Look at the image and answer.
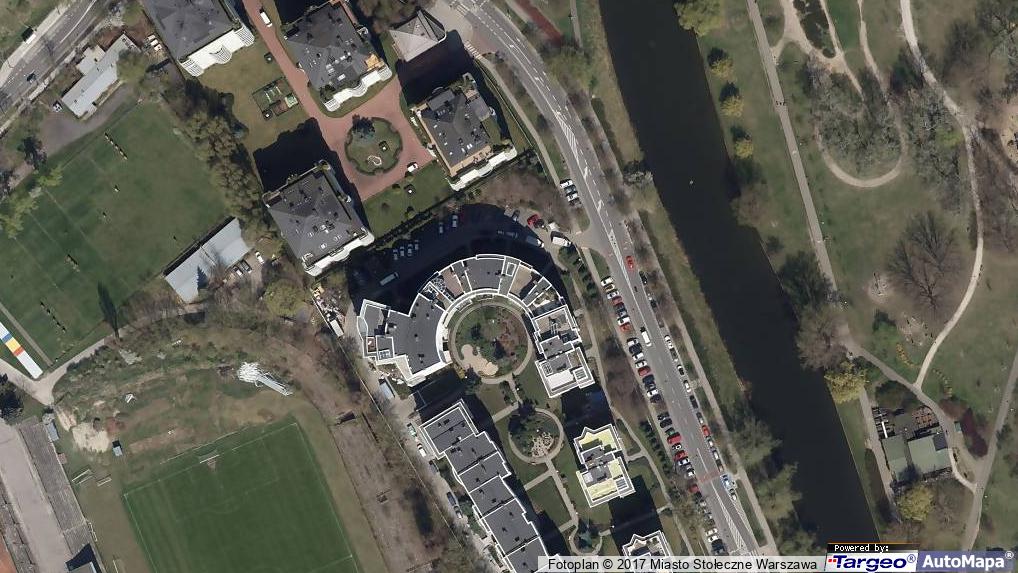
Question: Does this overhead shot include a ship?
No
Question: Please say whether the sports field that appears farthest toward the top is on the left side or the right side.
left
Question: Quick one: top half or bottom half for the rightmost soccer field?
bottom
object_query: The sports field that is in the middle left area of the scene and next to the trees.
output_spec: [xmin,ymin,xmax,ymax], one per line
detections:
[0,91,234,368]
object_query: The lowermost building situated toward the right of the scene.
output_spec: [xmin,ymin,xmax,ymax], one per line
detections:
[622,529,674,573]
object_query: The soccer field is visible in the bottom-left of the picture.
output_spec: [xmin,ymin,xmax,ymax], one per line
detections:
[117,416,367,573]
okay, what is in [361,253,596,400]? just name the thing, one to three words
building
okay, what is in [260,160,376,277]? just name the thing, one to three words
house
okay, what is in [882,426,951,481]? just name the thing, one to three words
building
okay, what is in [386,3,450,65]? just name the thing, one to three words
house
